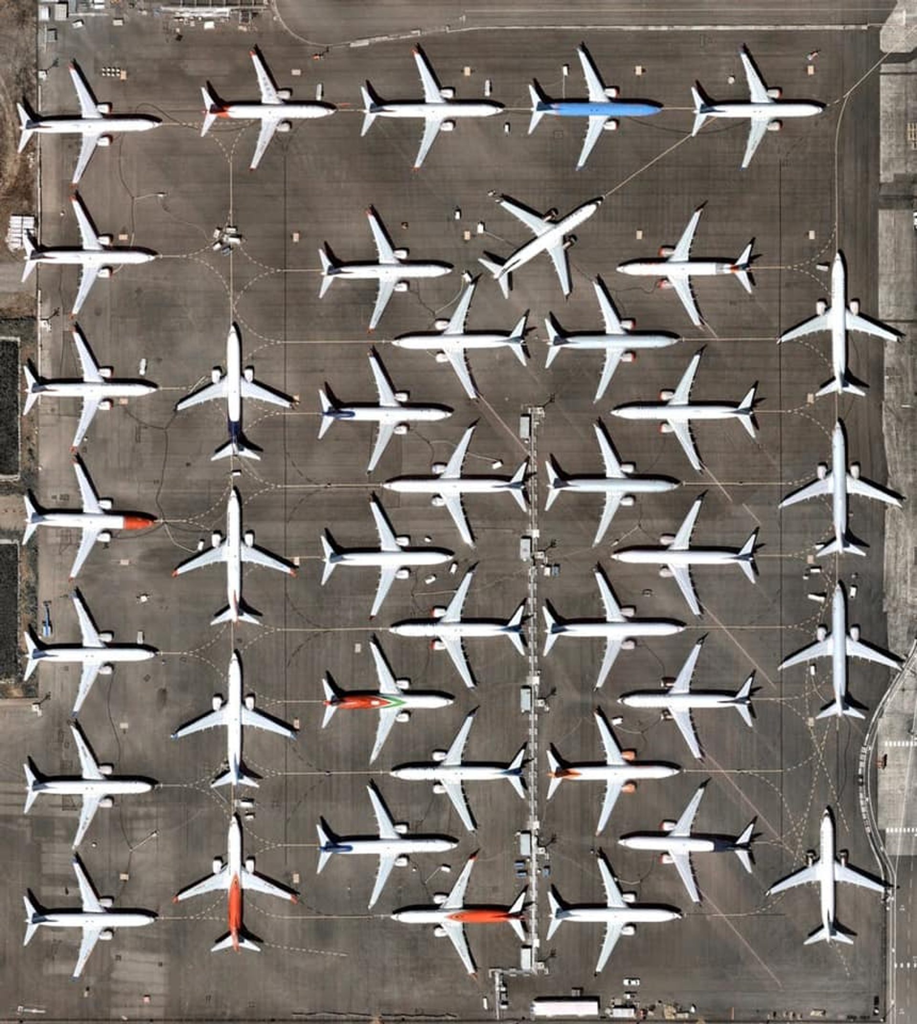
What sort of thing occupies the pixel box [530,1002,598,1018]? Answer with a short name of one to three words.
building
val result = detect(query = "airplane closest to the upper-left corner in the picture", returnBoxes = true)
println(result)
[17,64,161,187]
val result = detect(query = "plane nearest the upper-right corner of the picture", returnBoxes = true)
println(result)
[691,49,825,172]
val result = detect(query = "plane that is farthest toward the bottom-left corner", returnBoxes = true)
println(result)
[22,859,156,982]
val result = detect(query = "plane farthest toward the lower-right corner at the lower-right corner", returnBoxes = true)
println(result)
[767,809,890,943]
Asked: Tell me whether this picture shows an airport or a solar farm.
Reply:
airport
